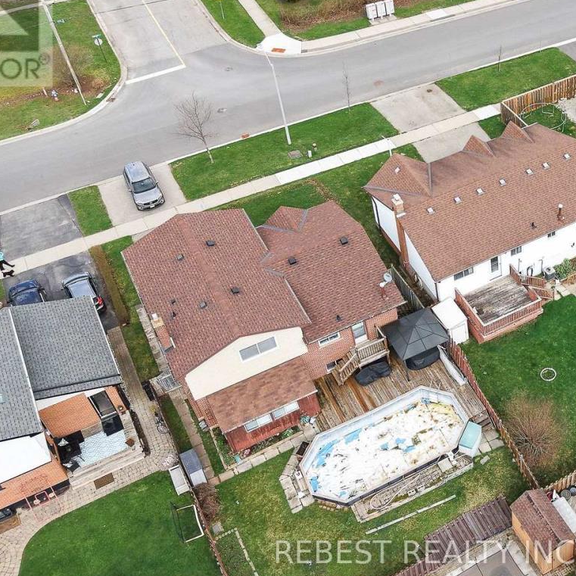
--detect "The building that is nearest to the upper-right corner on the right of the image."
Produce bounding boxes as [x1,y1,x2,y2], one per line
[362,122,576,305]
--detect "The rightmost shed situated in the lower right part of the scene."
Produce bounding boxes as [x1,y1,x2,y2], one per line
[504,487,575,576]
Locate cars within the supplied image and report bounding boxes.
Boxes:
[0,266,52,308]
[57,261,108,306]
[116,158,164,213]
